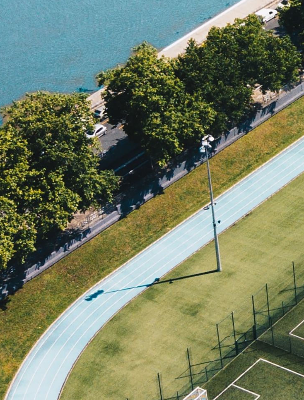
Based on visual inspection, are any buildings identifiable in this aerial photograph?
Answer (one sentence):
No, the scene contains no building.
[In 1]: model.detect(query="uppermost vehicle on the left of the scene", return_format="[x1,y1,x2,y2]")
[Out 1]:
[85,102,111,121]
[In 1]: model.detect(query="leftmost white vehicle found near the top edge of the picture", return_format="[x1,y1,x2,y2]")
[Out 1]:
[250,6,275,23]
